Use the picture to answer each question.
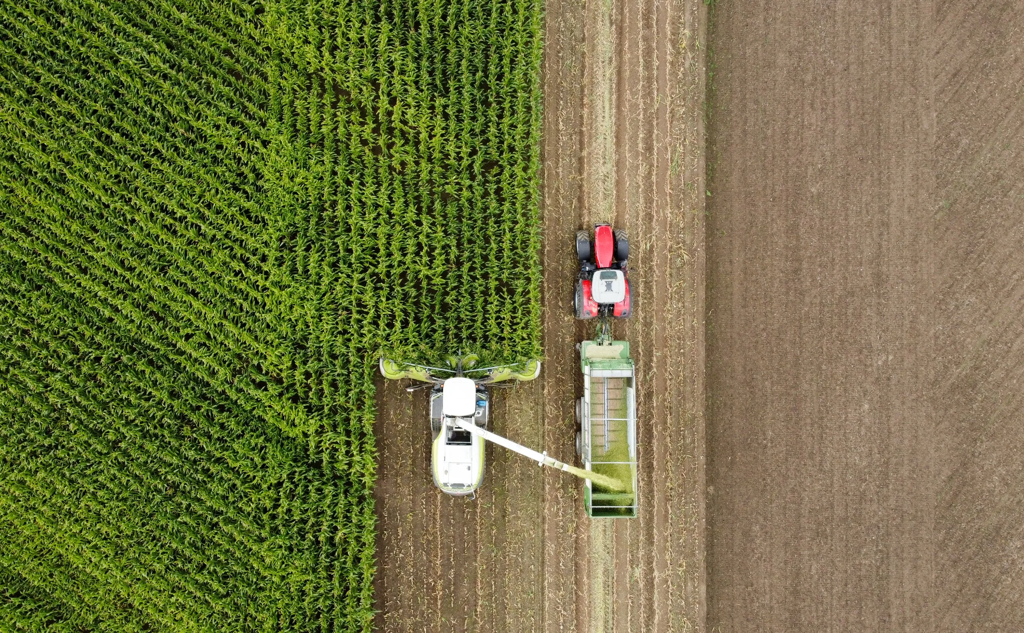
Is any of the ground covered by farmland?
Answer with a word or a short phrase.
Yes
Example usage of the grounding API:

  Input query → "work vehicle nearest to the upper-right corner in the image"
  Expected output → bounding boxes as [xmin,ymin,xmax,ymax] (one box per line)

[573,223,637,320]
